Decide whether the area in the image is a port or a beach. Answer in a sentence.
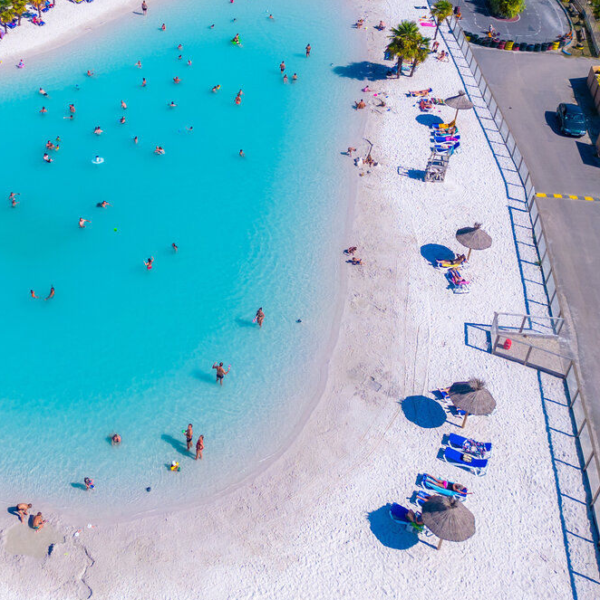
What you see here is a beach.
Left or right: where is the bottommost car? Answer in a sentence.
It is on the right.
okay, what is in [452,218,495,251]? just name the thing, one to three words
umbrella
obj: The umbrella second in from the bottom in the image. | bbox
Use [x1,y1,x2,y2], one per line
[443,377,498,429]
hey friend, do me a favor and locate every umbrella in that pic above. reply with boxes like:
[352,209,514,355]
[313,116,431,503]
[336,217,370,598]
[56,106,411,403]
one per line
[445,87,478,115]
[443,377,498,429]
[452,218,495,251]
[419,496,481,552]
